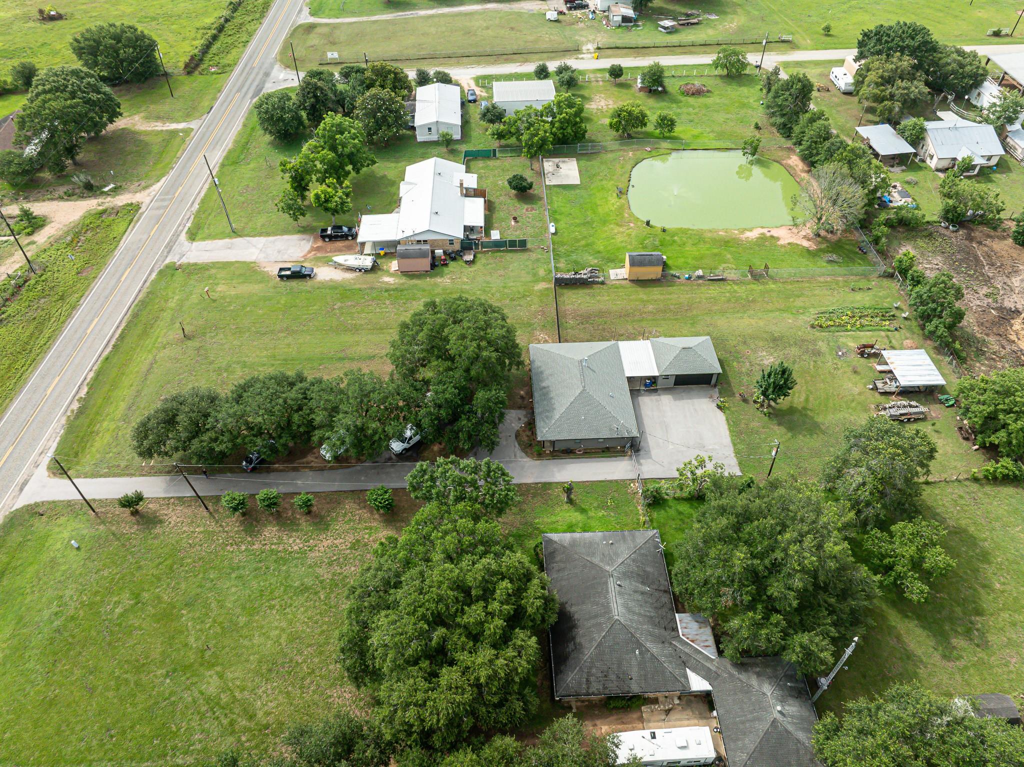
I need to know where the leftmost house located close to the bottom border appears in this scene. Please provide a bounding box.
[541,528,826,767]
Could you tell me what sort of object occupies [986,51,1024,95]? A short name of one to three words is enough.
barn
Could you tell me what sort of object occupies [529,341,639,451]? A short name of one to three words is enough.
house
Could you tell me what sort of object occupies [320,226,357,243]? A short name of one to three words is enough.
vehicle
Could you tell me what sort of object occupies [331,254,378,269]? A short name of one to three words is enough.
boat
